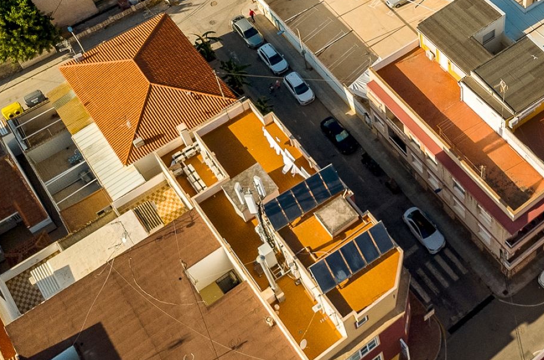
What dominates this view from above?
buildings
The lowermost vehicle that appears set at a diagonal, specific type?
car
